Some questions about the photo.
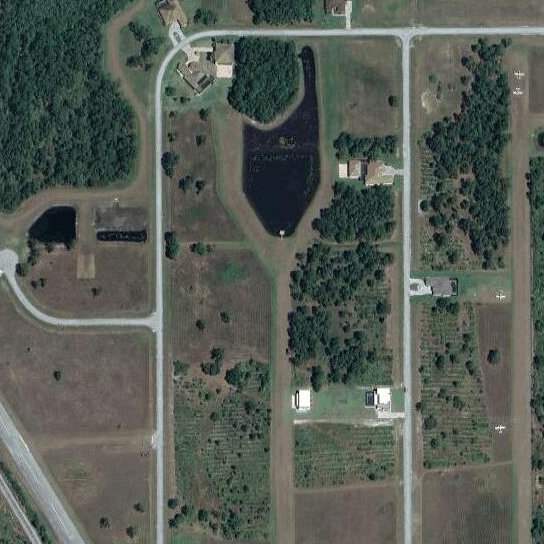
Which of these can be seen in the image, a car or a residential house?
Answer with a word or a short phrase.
residential house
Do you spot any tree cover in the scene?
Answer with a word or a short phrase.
Yes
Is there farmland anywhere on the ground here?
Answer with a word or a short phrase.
Yes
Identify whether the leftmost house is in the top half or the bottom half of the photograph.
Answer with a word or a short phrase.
top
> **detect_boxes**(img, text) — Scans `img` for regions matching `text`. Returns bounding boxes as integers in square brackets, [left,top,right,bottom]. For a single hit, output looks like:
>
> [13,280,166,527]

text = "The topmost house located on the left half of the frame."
[161,0,187,21]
